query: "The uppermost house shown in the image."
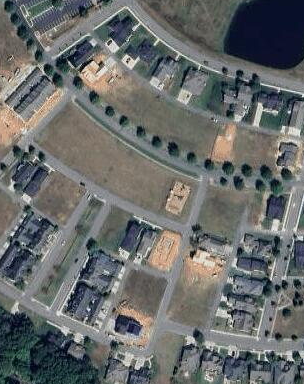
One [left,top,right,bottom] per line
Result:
[105,14,136,46]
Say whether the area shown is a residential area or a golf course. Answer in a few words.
residential area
